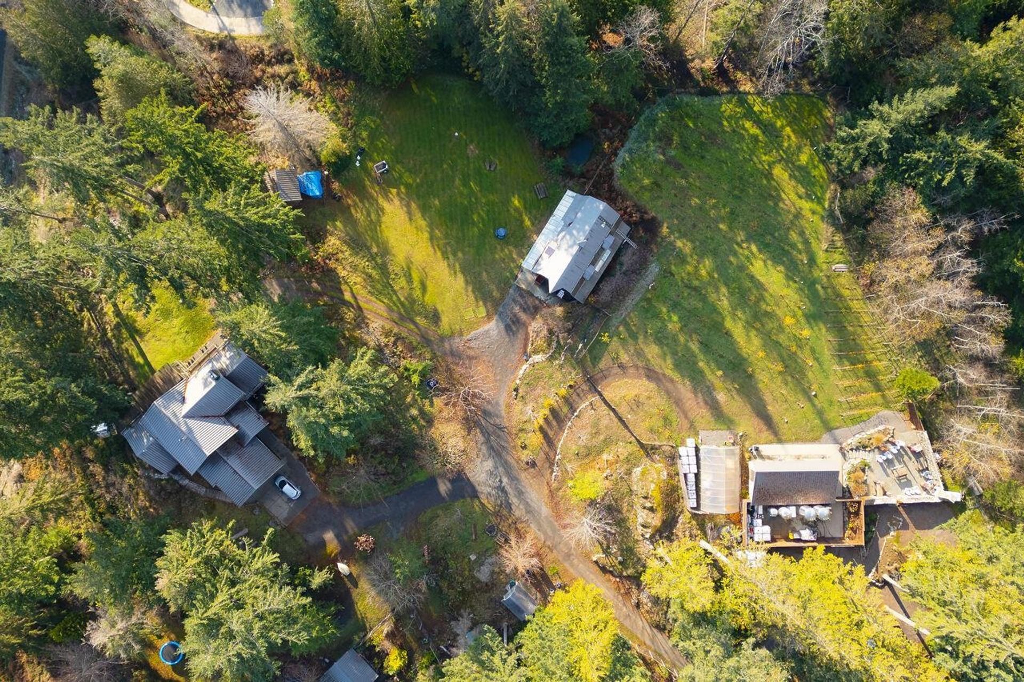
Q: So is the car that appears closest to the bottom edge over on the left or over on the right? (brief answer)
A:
left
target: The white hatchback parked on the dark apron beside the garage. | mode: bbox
[273,476,301,502]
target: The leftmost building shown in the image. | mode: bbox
[122,347,285,507]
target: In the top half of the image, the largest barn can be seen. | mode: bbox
[521,189,631,303]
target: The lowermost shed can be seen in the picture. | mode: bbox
[319,647,379,682]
